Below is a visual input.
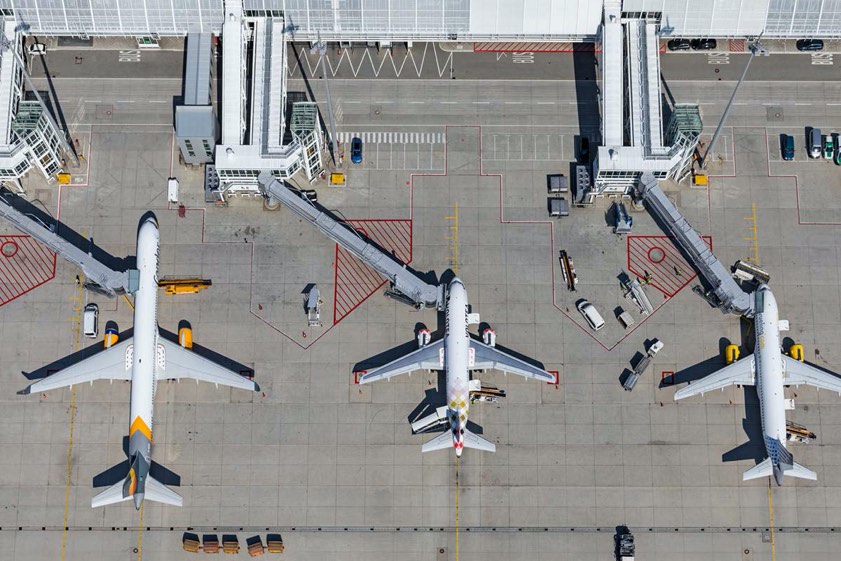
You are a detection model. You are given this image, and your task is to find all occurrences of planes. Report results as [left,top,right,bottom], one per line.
[673,283,841,488]
[18,216,256,512]
[361,278,556,458]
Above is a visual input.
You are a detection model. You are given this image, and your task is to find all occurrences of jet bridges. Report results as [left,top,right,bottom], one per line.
[632,173,767,317]
[258,173,448,312]
[0,194,141,299]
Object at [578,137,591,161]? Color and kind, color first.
black vehicle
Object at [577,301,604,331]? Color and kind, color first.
white vehicle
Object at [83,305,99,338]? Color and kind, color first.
white vehicle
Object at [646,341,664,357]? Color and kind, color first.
white work vehicle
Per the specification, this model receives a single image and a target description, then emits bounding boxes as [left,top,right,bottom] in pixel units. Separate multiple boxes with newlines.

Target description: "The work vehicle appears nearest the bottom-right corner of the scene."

[785,425,816,442]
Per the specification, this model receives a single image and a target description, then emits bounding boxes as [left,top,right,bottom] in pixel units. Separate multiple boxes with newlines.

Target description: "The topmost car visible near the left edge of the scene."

[28,43,48,56]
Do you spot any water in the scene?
No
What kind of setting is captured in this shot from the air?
airport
